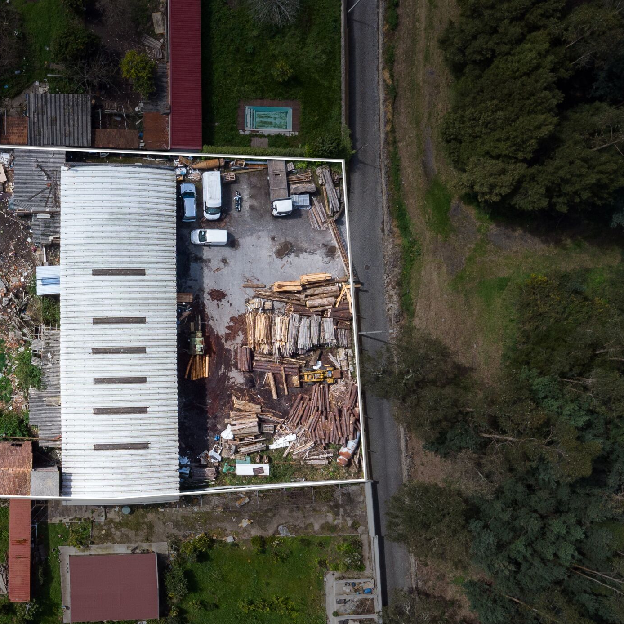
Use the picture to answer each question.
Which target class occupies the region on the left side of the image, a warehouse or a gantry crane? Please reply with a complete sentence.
What appears on the left side of the image is a warehouse.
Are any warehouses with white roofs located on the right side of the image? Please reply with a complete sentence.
No, no warehouse with a white roof appears on the right side of the image.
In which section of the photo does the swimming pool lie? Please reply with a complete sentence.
Look in the top portion of the view to spot the swimming pool.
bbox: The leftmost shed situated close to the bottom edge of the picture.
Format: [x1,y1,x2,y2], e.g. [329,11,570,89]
[8,496,32,602]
